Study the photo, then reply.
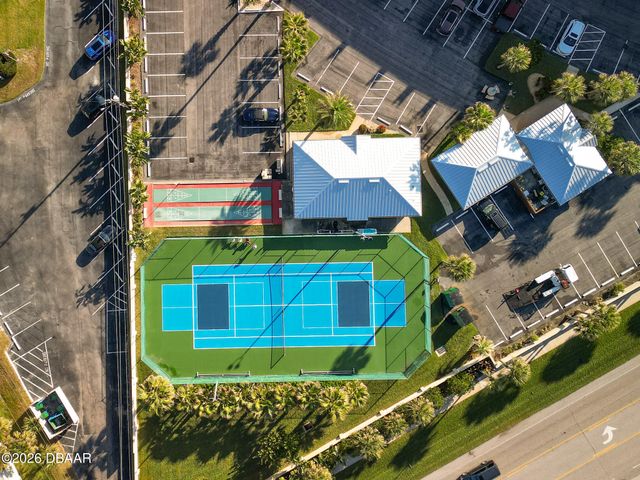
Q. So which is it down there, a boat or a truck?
truck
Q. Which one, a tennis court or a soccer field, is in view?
tennis court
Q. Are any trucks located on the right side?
Yes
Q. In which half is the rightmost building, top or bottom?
top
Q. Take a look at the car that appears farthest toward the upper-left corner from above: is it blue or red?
blue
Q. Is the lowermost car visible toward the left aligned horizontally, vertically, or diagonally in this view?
diagonally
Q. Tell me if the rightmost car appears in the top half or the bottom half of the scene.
top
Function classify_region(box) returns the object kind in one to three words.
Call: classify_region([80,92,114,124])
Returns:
car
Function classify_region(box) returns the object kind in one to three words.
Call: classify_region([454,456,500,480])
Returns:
truck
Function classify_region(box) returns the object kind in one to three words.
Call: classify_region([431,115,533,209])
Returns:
building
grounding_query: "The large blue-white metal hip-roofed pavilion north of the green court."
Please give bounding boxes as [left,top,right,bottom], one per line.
[292,134,422,221]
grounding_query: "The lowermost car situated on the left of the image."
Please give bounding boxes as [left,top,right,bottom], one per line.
[86,222,118,254]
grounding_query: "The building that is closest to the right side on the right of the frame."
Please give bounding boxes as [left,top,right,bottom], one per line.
[516,104,612,206]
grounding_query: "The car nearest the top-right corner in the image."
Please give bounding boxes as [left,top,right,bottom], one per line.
[556,19,584,56]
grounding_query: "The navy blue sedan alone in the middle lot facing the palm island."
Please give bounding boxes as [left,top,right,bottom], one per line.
[243,107,279,124]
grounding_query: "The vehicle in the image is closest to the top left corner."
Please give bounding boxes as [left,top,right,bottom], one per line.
[82,28,116,59]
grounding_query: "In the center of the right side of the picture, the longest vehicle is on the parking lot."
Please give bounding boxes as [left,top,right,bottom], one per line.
[496,259,581,312]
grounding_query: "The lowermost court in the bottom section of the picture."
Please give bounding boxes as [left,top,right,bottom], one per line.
[146,235,425,376]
